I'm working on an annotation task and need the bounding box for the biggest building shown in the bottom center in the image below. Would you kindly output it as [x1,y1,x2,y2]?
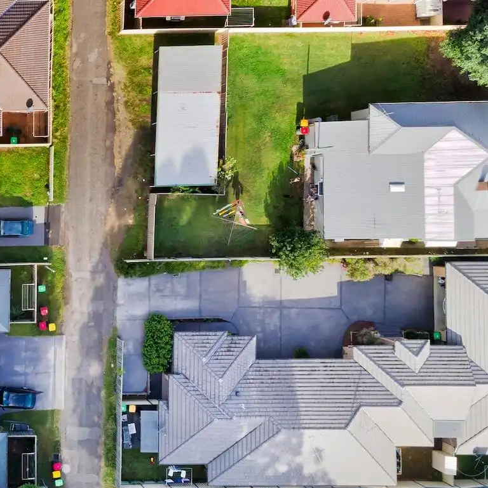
[157,329,434,487]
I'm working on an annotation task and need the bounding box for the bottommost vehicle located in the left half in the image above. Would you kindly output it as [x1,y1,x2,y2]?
[0,384,39,409]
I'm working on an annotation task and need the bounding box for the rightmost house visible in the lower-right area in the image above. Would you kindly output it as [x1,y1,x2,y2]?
[344,260,488,457]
